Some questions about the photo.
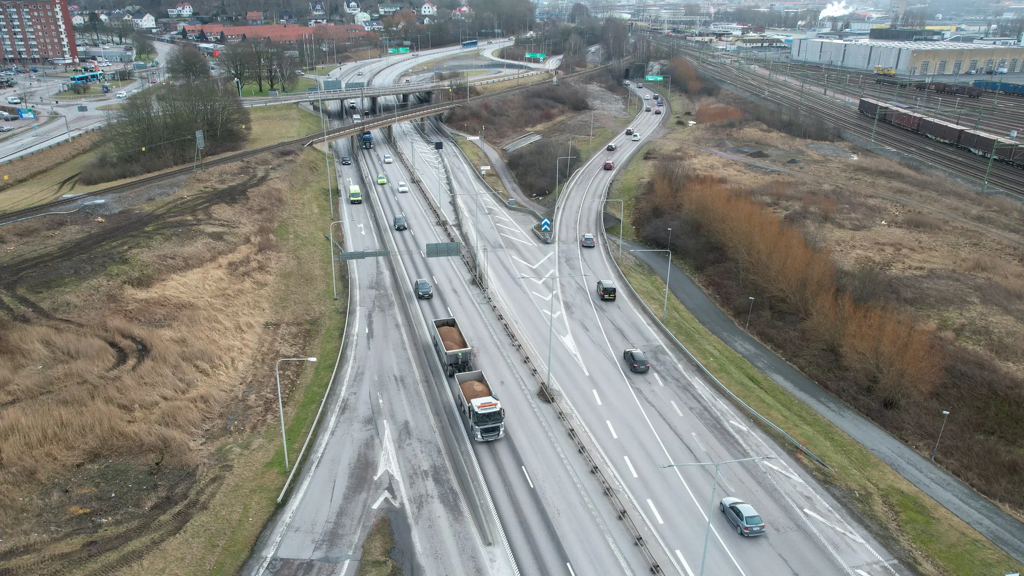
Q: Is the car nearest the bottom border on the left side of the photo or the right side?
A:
right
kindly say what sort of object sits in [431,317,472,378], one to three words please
trailer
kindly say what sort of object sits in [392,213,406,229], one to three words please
car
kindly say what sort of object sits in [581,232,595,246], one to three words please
car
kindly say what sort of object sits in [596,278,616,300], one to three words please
vehicle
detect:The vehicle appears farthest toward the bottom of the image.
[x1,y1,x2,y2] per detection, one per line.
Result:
[715,490,764,536]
